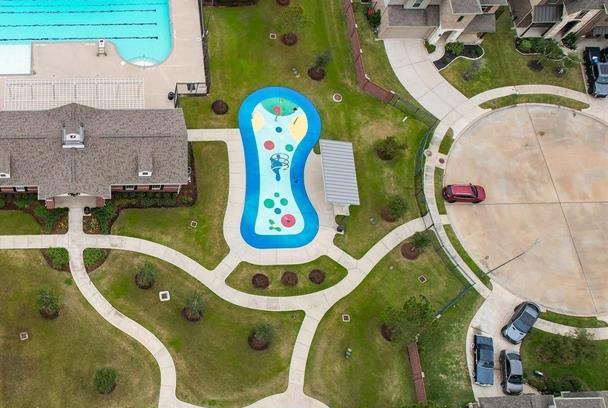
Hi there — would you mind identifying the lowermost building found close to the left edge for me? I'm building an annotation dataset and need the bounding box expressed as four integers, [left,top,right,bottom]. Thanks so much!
[0,99,187,212]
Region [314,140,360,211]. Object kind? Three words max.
building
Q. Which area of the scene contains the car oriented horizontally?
right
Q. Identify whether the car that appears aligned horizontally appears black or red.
red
